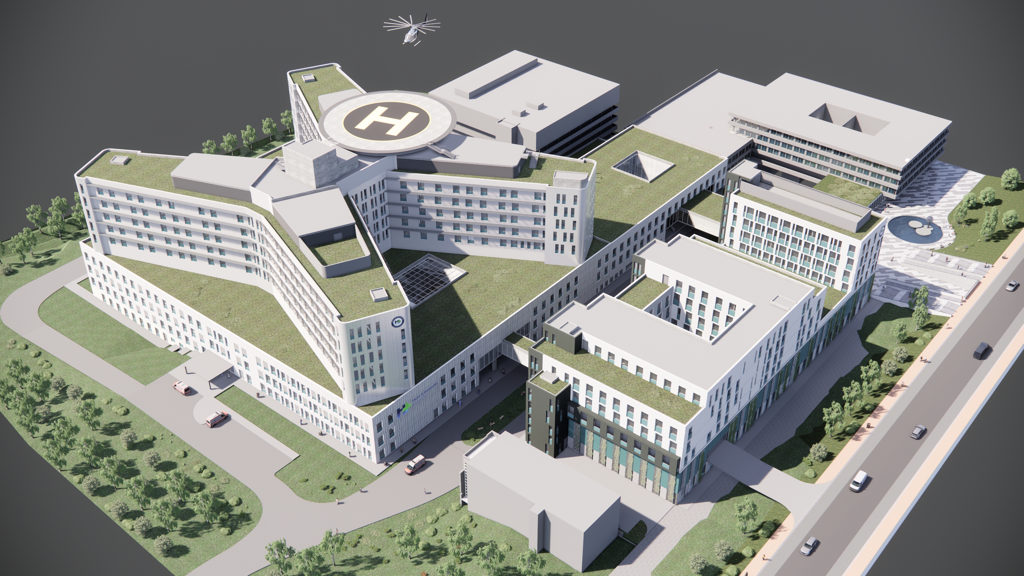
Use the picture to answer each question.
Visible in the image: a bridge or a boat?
bridge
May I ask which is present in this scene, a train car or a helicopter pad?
helicopter pad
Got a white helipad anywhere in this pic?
Yes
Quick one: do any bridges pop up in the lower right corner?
Yes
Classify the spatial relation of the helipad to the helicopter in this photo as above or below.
below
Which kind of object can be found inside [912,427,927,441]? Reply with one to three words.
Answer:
car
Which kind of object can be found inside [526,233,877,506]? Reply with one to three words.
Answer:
building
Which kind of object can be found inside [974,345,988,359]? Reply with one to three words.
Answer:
vehicle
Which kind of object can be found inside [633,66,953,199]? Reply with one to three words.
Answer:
building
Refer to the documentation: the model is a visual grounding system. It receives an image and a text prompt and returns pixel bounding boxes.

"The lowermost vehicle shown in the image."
[801,539,818,557]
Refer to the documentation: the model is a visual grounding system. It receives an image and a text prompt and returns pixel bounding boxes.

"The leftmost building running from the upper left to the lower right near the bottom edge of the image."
[456,429,621,573]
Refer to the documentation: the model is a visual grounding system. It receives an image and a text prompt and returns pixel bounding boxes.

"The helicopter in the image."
[384,14,441,46]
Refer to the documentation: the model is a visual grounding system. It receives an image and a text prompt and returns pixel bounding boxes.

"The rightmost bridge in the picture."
[707,441,837,530]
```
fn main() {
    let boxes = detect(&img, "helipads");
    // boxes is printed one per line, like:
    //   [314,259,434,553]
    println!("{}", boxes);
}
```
[319,90,458,158]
